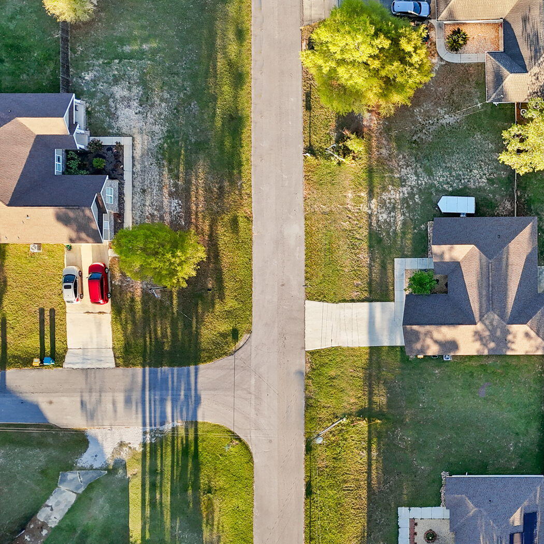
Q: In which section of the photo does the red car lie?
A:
left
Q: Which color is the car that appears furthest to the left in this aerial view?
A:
white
